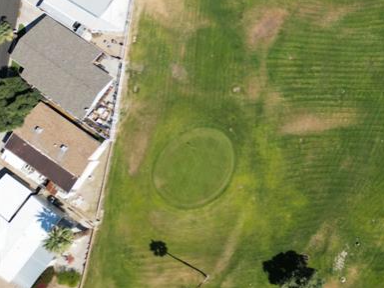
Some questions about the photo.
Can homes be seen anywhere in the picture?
Yes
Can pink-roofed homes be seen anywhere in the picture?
No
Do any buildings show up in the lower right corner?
No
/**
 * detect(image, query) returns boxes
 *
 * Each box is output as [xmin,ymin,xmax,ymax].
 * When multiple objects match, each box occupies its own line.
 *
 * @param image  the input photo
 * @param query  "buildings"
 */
[38,0,131,33]
[2,102,107,195]
[0,172,66,288]
[11,14,118,119]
